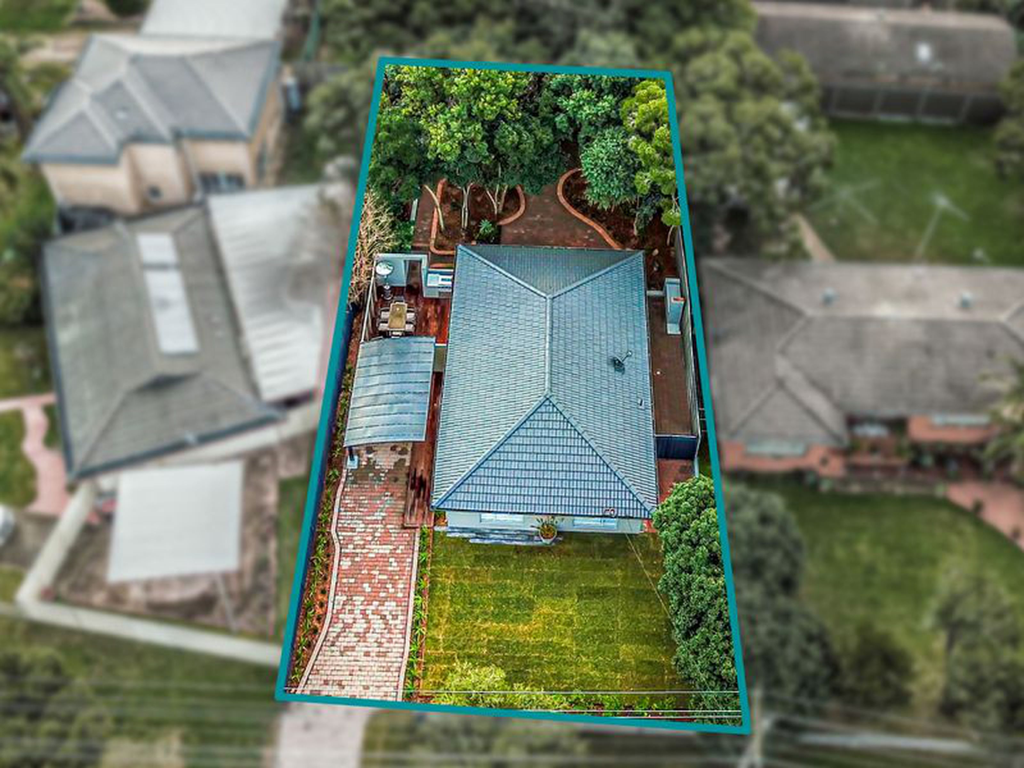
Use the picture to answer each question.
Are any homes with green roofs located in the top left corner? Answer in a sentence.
No, I can find no home with a green roof in the top left corner.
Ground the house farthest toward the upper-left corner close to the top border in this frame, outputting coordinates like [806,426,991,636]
[19,37,289,223]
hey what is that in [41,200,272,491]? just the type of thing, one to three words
house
